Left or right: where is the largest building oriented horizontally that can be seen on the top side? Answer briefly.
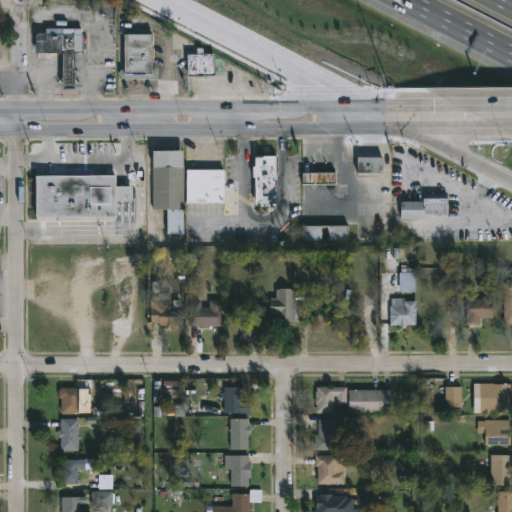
left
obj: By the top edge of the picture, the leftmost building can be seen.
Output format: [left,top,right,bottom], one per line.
[36,22,84,87]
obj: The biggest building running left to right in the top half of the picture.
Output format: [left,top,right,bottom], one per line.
[36,176,133,218]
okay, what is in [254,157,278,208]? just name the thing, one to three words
building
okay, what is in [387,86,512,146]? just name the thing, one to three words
bridge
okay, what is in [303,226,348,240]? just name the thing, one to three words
shed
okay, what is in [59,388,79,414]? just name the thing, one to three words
house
